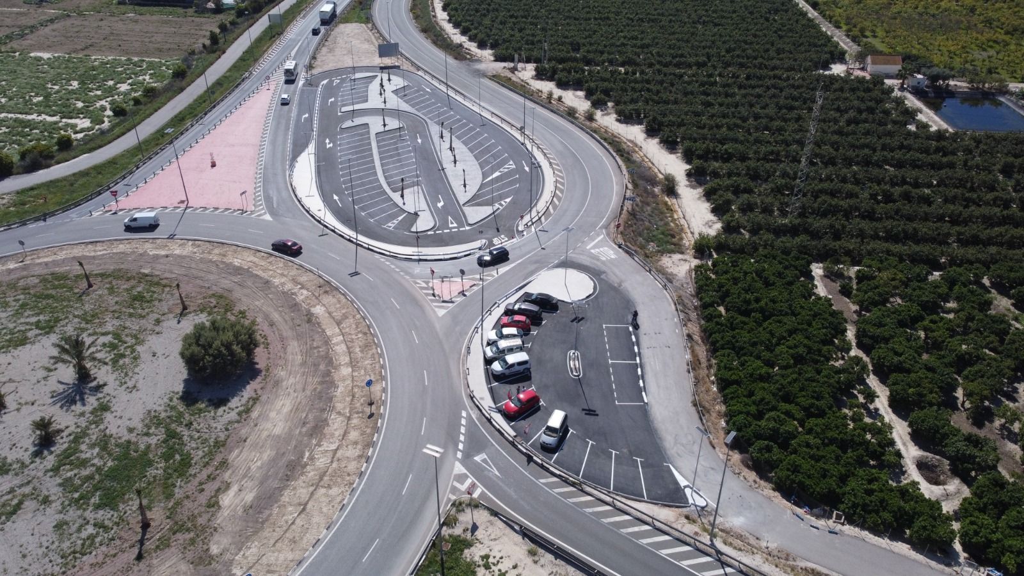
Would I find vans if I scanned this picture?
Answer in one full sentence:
Yes, I can see a van in this picture.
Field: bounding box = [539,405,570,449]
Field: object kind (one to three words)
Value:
vehicle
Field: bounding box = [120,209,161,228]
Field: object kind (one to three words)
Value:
vehicle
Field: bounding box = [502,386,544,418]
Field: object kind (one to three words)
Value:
car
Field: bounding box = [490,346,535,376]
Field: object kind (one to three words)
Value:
van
